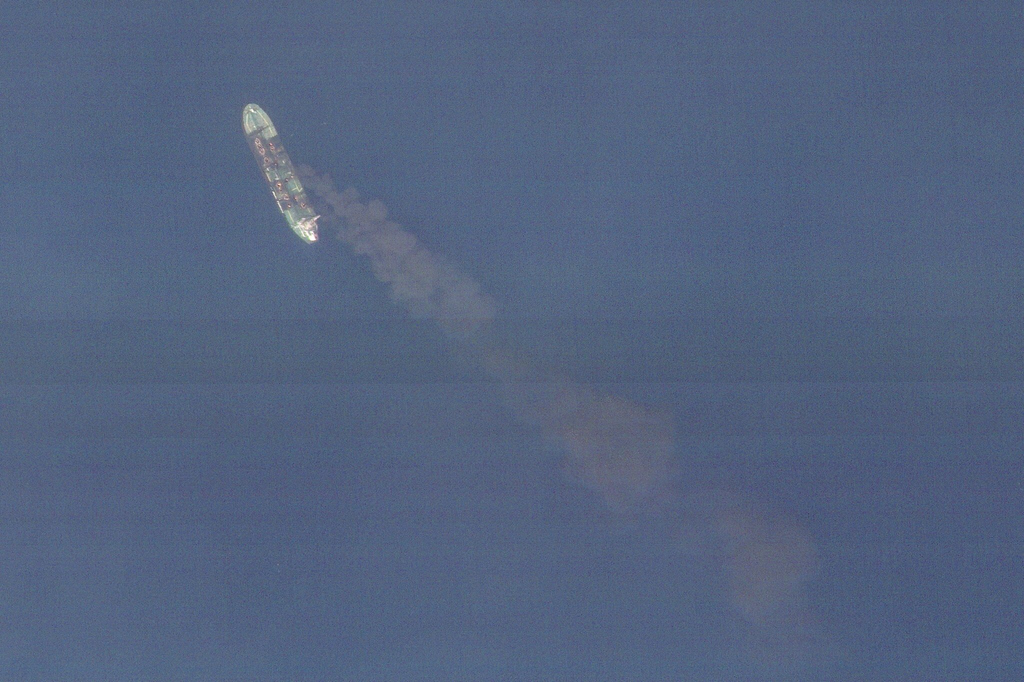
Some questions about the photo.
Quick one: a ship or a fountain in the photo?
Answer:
ship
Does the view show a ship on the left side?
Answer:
Yes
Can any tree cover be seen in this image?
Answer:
No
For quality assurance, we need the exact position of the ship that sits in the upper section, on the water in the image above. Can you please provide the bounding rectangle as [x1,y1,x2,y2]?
[245,103,320,244]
